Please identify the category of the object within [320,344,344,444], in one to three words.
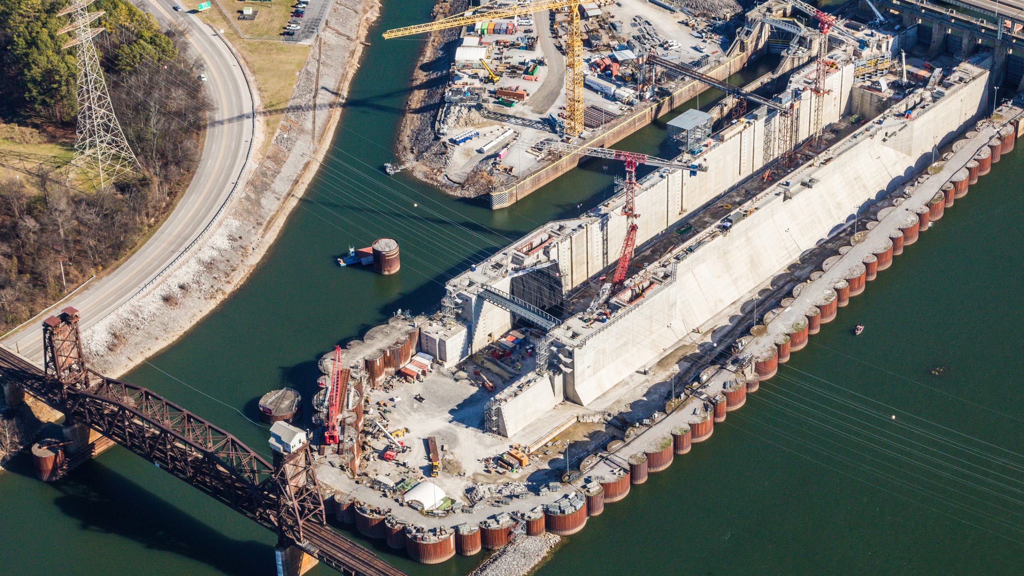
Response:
crane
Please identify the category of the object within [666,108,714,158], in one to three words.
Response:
building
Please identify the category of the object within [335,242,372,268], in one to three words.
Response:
boat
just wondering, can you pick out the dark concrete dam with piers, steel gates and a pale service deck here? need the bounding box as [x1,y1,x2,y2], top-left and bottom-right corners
[864,0,1024,110]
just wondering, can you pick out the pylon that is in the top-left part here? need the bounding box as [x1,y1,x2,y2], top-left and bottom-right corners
[52,0,142,194]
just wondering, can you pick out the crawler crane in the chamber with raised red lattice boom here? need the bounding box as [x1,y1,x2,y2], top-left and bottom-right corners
[581,224,633,302]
